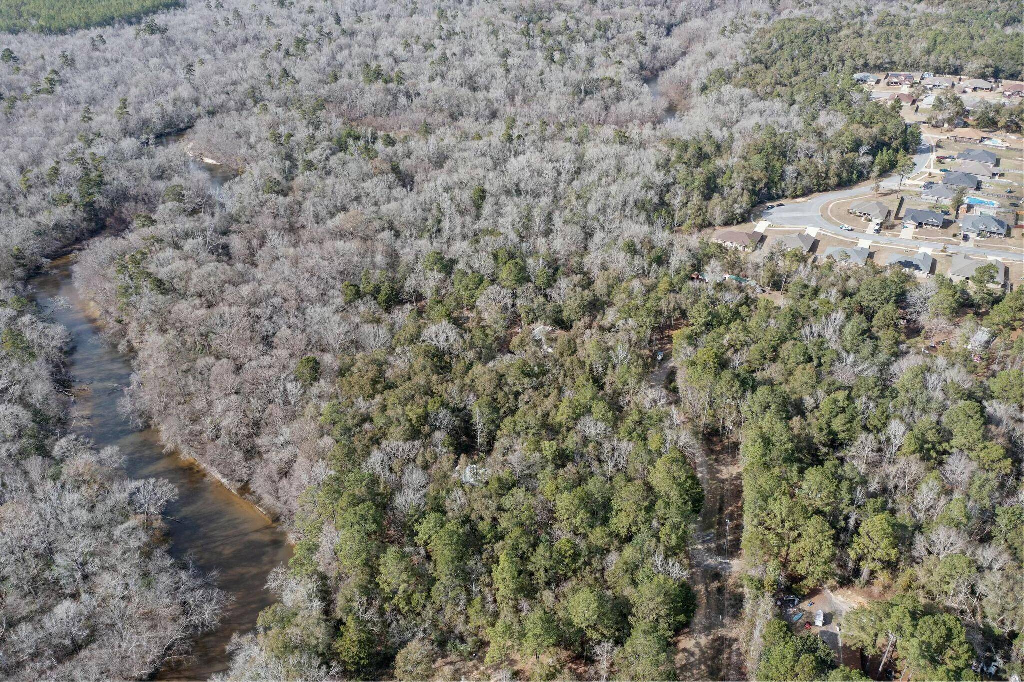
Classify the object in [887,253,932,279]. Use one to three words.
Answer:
house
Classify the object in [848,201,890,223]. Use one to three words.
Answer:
house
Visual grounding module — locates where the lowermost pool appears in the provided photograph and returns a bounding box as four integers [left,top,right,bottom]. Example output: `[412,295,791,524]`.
[962,195,1001,207]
